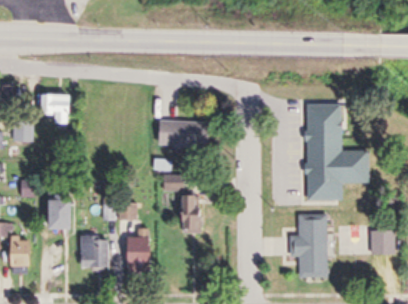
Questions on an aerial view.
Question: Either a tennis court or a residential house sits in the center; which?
residential house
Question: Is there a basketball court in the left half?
No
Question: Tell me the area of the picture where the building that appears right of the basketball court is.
bottom right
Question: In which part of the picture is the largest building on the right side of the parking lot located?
right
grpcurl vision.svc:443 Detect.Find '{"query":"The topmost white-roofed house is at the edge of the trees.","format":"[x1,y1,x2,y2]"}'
[40,94,70,126]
